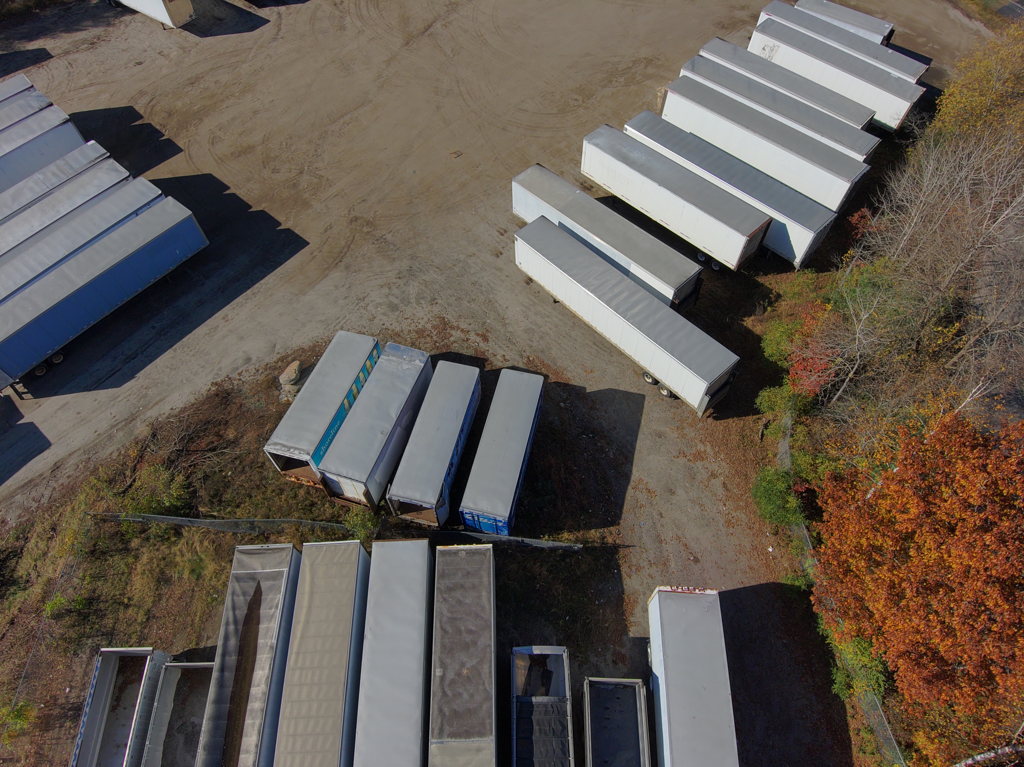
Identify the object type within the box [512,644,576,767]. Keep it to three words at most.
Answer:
trailer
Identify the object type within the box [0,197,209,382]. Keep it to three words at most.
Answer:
trailer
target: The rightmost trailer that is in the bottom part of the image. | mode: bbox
[648,585,738,767]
